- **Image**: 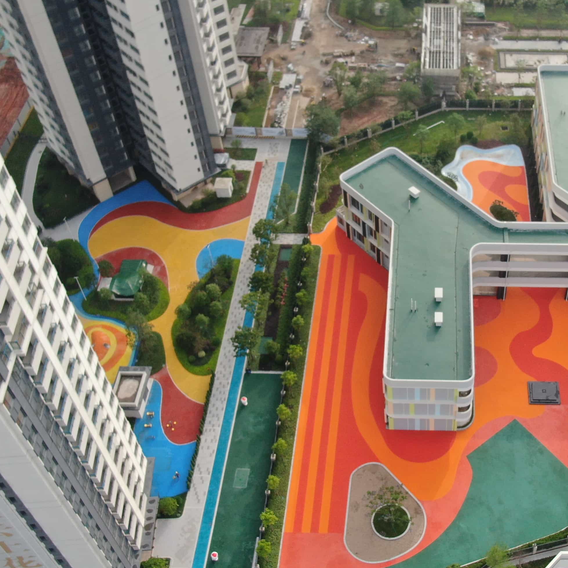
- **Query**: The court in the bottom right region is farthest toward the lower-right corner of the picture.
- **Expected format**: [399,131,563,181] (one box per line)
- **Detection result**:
[281,405,568,568]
